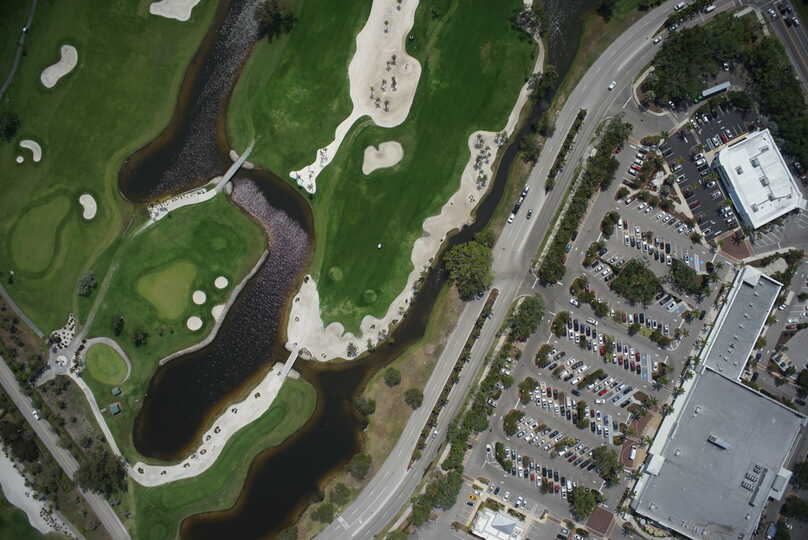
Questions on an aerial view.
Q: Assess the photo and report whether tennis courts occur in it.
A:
No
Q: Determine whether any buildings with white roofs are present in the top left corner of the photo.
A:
No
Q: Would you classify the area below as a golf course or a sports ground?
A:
golf course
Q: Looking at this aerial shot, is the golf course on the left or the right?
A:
left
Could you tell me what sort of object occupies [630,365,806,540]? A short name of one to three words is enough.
building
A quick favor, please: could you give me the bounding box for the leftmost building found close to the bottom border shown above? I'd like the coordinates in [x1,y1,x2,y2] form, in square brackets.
[466,503,526,540]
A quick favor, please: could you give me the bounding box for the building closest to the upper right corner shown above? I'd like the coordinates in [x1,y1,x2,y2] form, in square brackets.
[709,129,807,230]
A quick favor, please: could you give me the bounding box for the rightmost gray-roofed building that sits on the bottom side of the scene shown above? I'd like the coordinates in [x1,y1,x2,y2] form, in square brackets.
[770,325,808,371]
